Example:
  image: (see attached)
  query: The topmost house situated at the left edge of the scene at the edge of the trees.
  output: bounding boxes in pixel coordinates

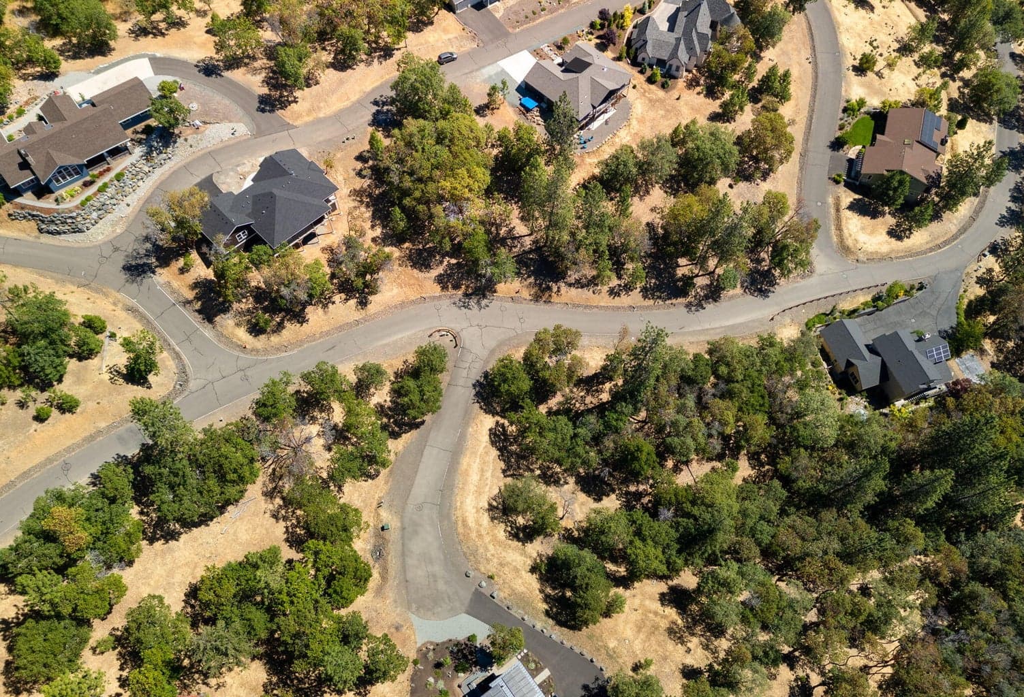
[0,79,152,194]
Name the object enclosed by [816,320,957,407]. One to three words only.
house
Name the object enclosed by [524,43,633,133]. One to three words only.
house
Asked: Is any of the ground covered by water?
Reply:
No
